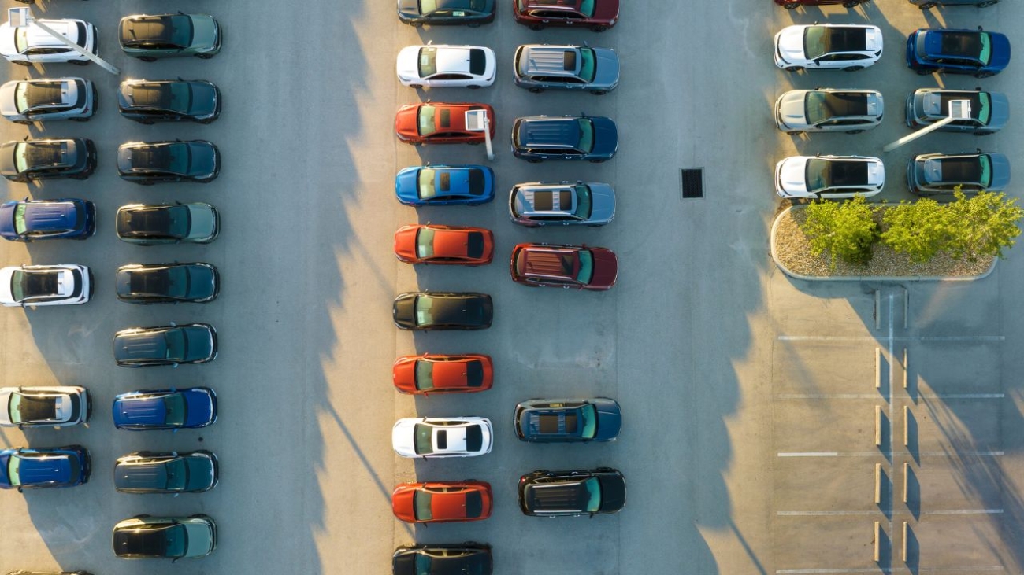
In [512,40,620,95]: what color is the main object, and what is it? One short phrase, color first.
blue car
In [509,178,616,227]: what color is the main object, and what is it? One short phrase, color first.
blue car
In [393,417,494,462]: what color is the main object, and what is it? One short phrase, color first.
white car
